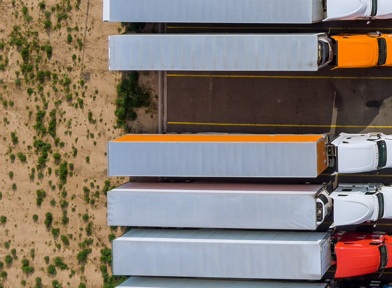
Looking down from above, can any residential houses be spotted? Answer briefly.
No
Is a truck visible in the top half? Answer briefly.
Yes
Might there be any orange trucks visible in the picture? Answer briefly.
Yes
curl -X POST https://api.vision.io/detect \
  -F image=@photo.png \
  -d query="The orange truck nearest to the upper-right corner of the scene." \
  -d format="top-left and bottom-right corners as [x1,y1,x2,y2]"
[329,31,392,73]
